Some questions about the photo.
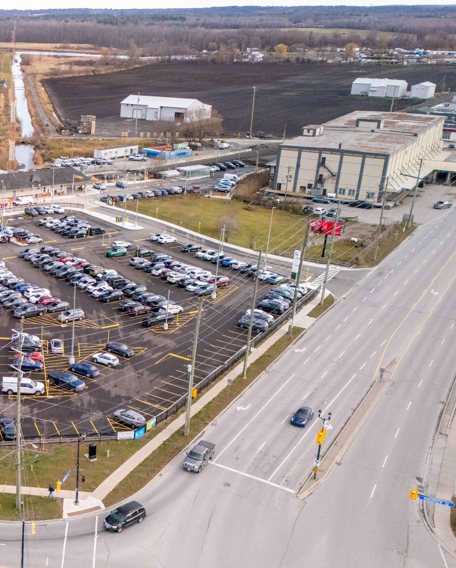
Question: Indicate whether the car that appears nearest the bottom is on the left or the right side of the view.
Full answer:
The car that appears nearest the bottom is on the left side of the image.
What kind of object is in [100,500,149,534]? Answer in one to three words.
car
